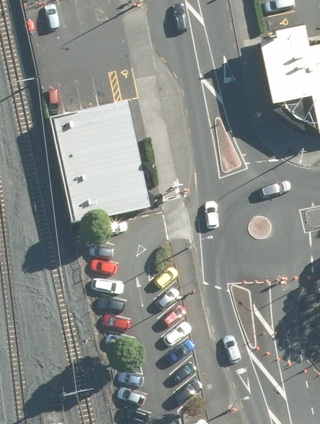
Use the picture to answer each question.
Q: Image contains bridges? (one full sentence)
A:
No, there isn't any bridge down there.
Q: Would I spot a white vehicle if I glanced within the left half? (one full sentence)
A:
Yes, I can see a white vehicle within the left half.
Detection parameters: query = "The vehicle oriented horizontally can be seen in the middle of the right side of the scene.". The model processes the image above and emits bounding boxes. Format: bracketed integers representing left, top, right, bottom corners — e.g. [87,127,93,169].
[262,179,292,196]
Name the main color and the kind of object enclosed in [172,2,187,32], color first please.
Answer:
gray car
